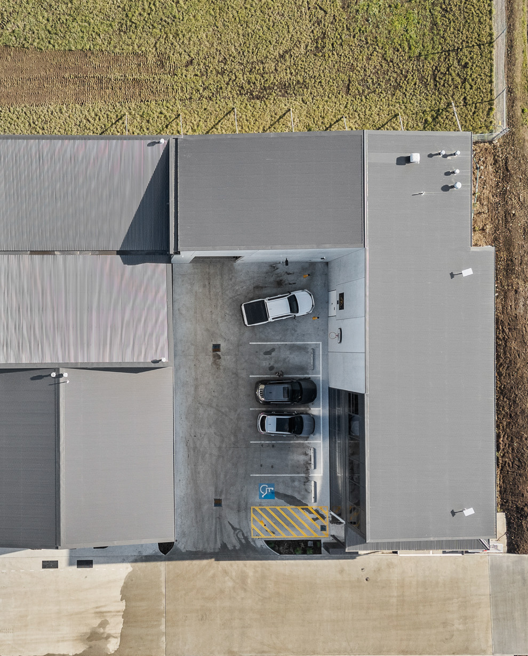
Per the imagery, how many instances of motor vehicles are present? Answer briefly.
three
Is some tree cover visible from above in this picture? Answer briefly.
No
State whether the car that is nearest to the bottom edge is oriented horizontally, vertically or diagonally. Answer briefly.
horizontally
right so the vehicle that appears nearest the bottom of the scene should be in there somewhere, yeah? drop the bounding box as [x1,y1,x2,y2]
[256,410,315,440]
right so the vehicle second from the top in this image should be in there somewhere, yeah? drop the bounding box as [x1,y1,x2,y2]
[254,377,318,408]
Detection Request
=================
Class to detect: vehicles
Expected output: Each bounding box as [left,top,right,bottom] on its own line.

[242,291,317,326]
[254,377,318,408]
[256,410,315,440]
